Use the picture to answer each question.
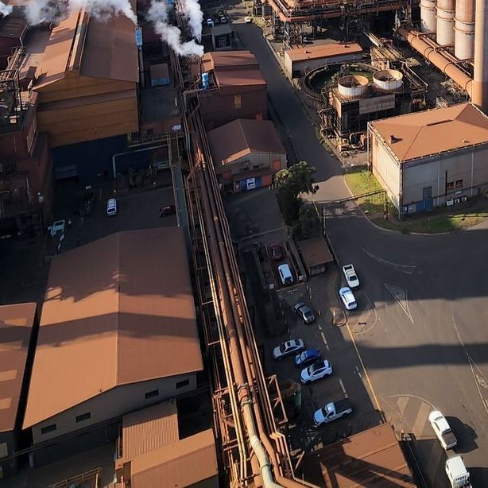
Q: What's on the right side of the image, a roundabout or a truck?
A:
truck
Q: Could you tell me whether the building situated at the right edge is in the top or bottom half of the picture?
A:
top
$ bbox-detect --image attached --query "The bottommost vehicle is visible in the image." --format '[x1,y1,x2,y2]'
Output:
[439,450,475,488]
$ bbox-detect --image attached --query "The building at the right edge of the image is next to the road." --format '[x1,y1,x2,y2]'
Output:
[370,107,488,213]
